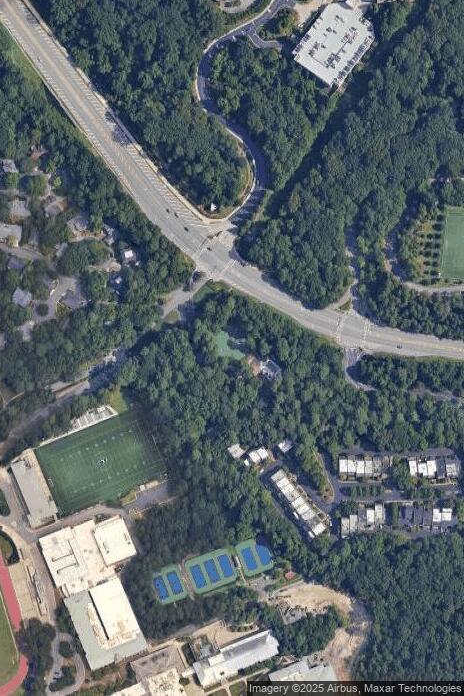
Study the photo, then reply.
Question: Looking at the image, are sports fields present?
Yes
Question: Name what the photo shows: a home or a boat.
home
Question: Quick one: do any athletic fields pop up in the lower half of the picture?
Yes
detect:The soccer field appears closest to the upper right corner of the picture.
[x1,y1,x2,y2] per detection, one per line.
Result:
[443,209,464,283]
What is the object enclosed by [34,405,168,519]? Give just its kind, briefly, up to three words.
sports field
